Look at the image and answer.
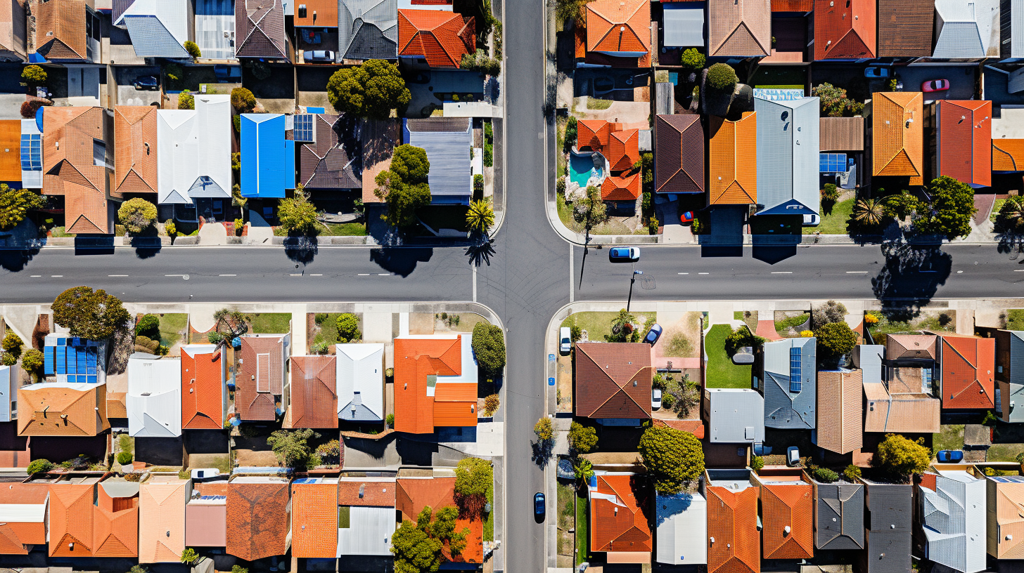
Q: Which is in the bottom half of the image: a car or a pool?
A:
car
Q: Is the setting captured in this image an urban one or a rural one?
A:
urban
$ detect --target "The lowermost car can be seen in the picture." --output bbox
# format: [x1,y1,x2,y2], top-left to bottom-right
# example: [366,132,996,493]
[532,491,547,521]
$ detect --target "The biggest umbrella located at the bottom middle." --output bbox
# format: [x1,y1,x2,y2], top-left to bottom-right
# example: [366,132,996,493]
[557,460,575,478]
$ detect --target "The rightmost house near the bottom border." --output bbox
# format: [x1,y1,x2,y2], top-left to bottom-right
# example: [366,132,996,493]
[987,484,1024,561]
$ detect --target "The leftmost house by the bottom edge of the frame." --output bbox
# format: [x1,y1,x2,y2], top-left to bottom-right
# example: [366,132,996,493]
[0,479,61,556]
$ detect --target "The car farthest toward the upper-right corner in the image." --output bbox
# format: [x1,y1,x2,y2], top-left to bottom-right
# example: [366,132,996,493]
[919,76,948,93]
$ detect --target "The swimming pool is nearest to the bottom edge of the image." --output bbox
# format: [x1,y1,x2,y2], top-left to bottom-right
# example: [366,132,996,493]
[565,146,611,204]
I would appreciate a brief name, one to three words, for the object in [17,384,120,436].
house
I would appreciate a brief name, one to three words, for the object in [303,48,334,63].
car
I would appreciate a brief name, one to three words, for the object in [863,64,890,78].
car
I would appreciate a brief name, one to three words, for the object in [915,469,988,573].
house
